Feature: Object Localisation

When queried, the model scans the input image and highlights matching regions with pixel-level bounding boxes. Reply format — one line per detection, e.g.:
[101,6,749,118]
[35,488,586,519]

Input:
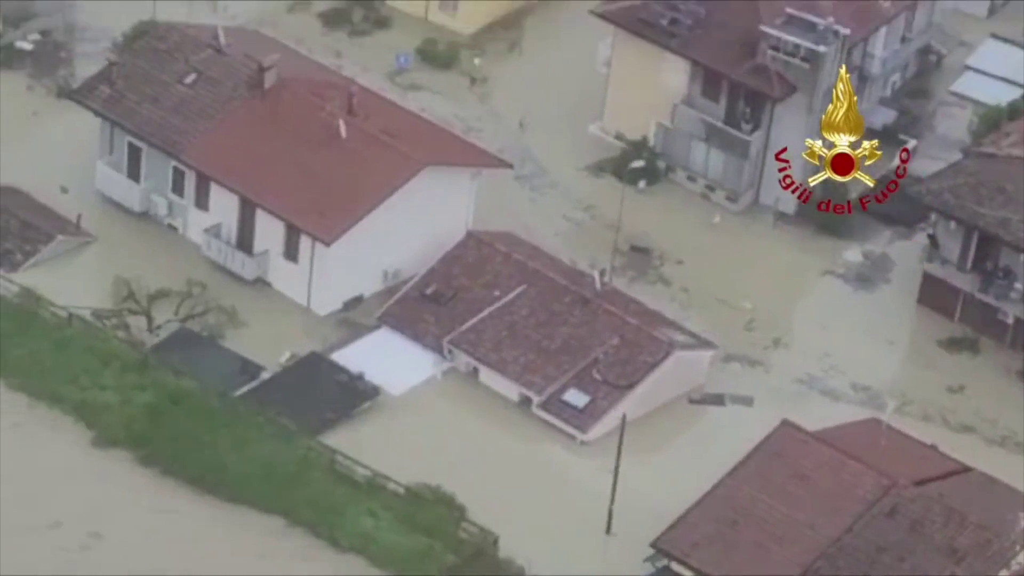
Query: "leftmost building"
[0,180,97,282]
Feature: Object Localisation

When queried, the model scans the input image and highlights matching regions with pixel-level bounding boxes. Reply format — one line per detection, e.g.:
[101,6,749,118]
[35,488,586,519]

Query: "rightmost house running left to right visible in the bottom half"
[646,411,1024,576]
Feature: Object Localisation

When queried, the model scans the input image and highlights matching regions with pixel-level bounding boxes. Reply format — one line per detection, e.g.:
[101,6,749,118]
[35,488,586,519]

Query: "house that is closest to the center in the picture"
[377,231,718,447]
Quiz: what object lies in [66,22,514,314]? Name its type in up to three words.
house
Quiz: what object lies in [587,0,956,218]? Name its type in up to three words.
house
